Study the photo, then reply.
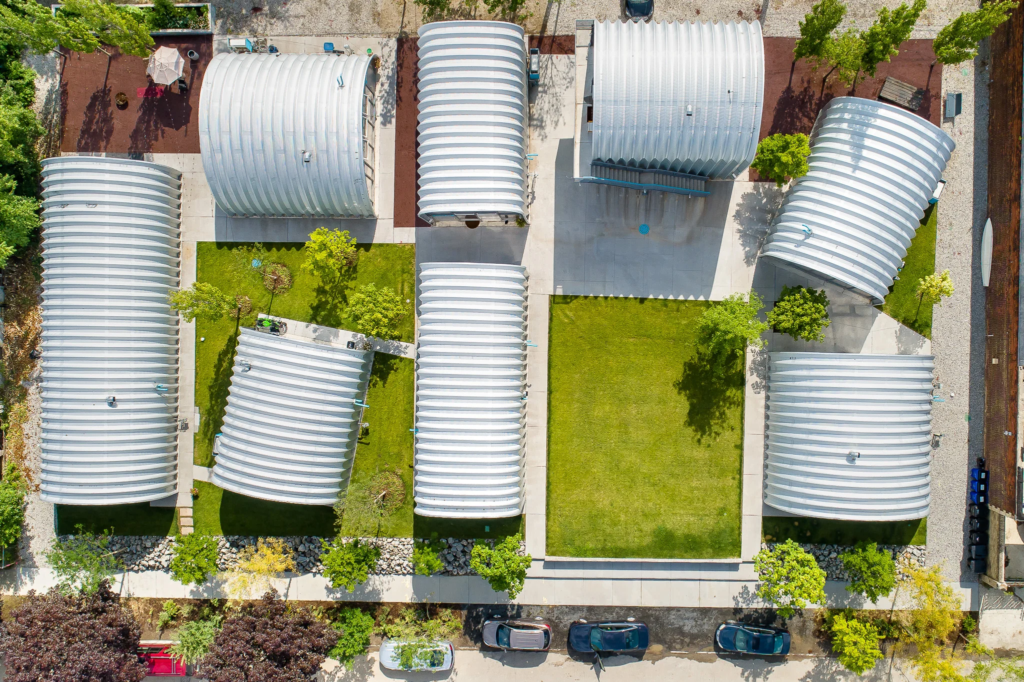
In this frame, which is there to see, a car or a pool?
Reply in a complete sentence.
Of the two, only a car appears.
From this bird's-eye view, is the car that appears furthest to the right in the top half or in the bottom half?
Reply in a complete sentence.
You can find the car that appears furthest to the right in the bottom half.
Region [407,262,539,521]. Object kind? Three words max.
shed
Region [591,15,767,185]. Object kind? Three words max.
shed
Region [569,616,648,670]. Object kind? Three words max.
car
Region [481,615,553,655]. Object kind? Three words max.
car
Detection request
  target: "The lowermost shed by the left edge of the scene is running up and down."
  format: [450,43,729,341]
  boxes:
[40,156,184,507]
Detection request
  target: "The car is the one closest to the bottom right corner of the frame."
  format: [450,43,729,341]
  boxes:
[713,617,791,657]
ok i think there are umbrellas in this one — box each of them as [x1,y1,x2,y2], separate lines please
[149,45,183,86]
